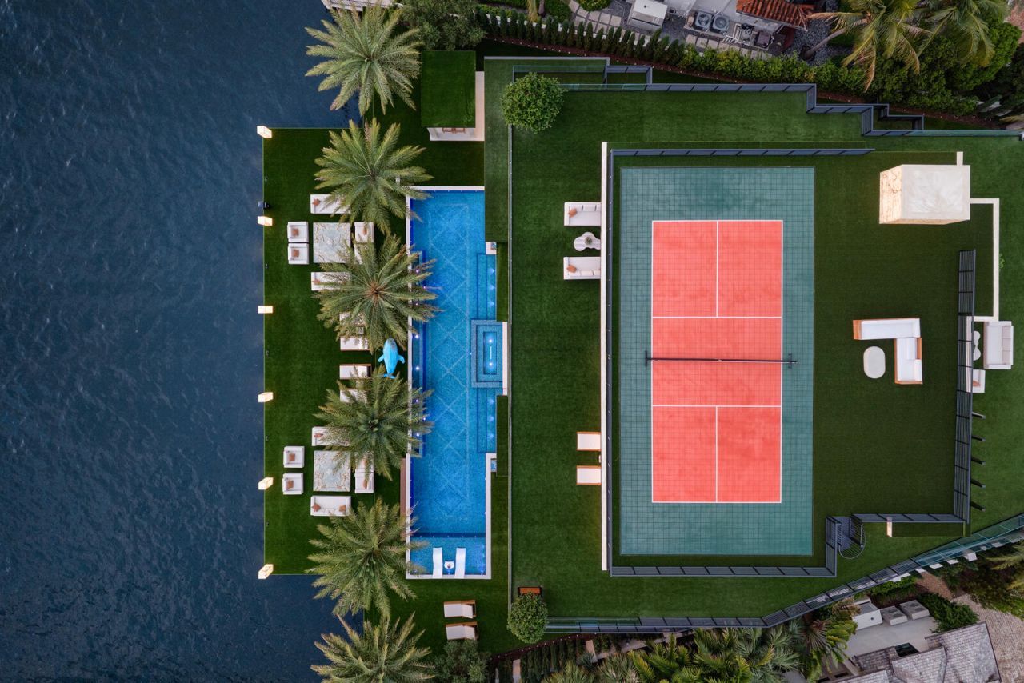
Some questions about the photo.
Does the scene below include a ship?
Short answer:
No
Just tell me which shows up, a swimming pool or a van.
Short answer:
swimming pool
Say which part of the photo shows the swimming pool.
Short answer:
center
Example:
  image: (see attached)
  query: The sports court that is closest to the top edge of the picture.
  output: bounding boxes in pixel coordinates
[619,166,815,556]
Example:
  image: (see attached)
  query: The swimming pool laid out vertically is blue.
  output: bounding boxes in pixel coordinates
[406,186,508,579]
